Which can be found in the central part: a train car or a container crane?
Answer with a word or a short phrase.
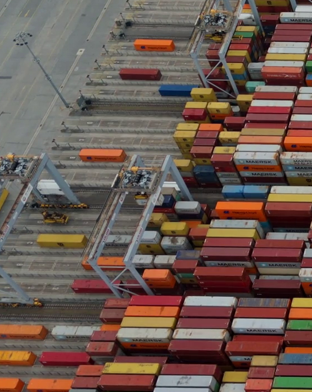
container crane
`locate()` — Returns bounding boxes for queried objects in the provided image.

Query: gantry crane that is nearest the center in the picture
[85,152,203,298]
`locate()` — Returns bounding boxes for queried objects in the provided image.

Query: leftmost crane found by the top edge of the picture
[186,0,264,104]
